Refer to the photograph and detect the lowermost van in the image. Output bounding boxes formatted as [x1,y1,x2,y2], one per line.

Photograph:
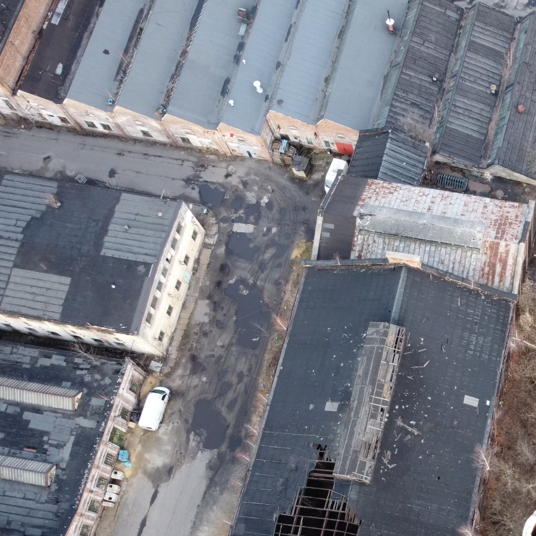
[135,388,171,429]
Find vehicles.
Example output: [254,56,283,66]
[135,388,171,429]
[320,150,347,193]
